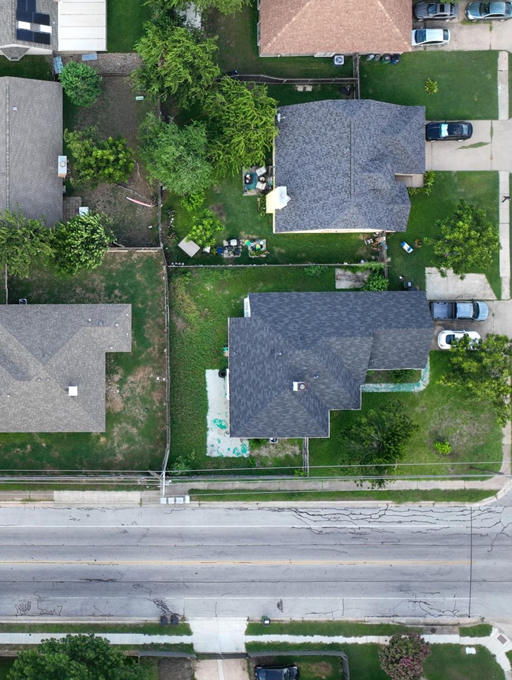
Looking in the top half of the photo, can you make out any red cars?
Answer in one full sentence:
No, there's no red car to be seen in the top half of the photo.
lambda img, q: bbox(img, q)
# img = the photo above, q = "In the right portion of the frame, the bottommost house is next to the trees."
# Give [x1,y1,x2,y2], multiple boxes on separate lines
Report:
[225,291,434,438]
